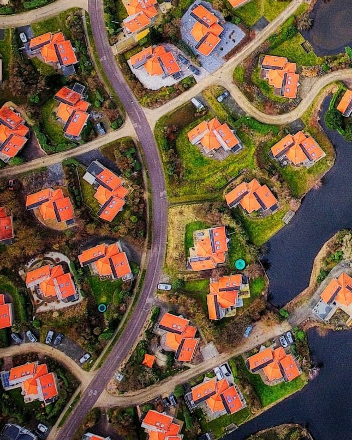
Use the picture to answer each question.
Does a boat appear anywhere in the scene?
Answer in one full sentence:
No, the frame has no boat in it.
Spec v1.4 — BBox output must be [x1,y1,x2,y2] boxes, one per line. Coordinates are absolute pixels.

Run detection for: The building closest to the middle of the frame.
[189,217,228,268]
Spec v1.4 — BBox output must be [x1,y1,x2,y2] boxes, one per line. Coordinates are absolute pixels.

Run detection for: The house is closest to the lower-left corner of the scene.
[2,411,41,440]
